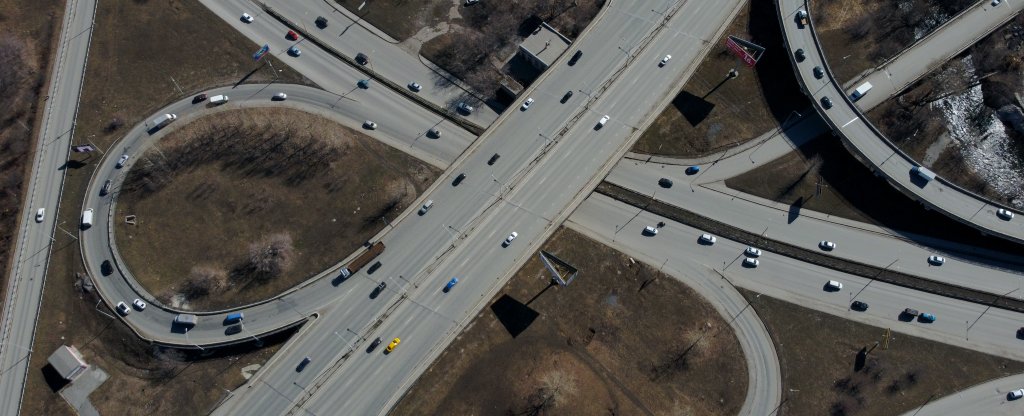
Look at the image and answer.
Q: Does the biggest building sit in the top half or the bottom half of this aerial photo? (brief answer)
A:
top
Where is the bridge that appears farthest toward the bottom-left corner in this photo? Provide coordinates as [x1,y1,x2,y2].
[208,0,754,416]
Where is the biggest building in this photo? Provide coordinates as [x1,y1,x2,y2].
[519,20,572,75]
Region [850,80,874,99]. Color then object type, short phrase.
white vehicle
